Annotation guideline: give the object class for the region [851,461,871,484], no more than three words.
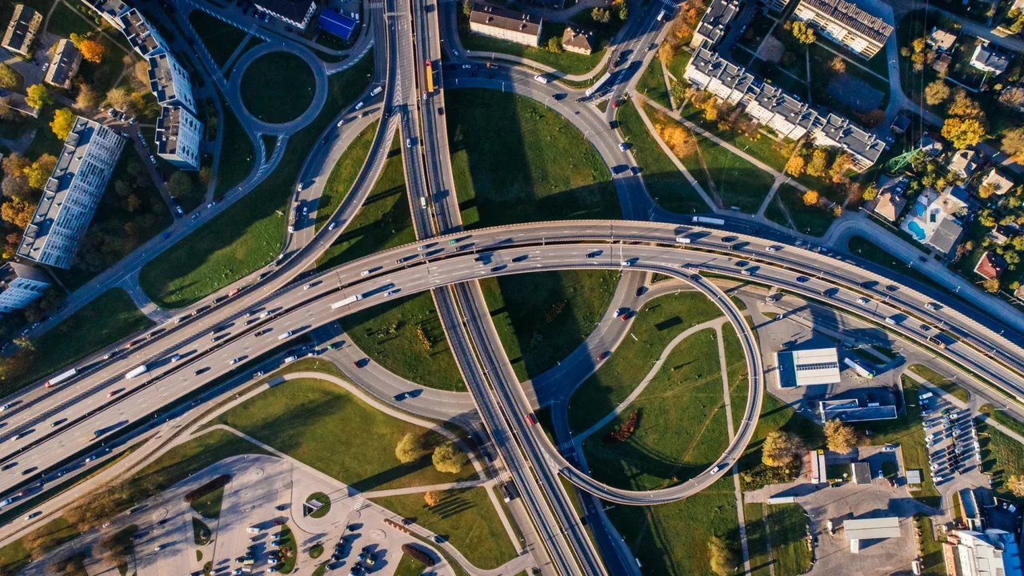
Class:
shed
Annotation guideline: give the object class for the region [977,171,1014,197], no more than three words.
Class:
house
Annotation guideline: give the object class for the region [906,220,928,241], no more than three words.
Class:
swimming pool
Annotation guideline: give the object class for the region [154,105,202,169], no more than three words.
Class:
building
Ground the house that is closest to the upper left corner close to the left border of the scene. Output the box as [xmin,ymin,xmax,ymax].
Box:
[2,4,42,54]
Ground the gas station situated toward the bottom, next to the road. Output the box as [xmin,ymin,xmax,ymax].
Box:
[773,348,841,388]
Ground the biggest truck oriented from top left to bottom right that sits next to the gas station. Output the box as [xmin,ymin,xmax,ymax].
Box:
[841,355,873,378]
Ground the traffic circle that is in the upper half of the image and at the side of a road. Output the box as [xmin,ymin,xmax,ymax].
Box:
[229,40,327,134]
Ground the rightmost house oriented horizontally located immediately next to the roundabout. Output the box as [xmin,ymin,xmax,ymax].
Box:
[253,0,318,29]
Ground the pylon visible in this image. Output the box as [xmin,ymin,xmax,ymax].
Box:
[885,144,934,176]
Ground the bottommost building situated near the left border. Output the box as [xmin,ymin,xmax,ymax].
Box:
[0,262,51,319]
